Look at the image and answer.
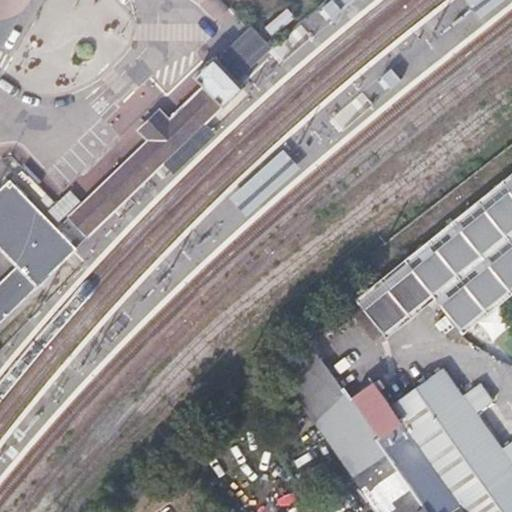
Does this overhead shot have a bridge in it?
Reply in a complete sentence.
No, there's no bridge here.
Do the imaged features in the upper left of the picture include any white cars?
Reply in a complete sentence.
Yes, a white car shows up in the upper left of the picture.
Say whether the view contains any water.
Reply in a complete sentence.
No, the picture contains no water.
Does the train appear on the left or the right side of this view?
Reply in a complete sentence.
The train appears in the left half of the scene.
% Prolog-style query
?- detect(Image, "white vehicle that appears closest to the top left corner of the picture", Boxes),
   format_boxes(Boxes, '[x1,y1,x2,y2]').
[4,28,20,48]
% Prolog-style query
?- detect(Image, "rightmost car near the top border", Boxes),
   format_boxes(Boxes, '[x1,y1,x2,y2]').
[199,16,218,36]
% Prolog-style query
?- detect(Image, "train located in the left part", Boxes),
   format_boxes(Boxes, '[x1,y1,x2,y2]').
[0,273,102,402]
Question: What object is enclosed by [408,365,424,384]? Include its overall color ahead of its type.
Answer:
white car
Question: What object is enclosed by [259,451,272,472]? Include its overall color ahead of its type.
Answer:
white vehicle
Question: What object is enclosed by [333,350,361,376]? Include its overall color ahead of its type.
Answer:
white truck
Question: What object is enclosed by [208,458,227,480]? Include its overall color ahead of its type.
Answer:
white vehicle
